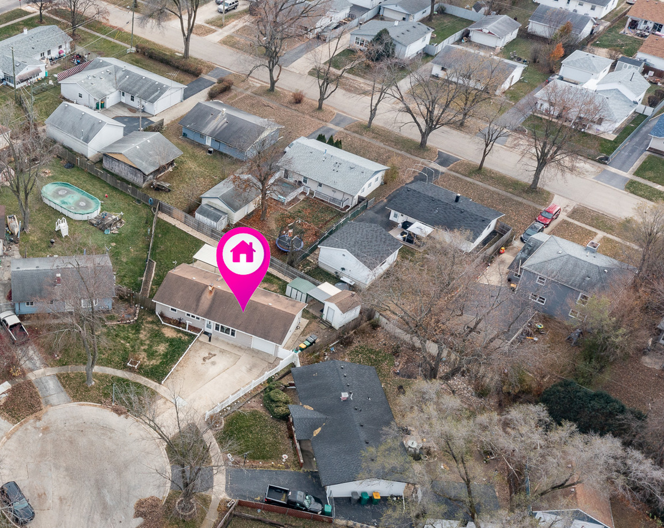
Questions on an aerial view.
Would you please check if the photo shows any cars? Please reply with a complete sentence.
Yes, there is a car in the image.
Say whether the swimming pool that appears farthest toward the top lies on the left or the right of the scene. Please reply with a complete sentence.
The swimming pool that appears farthest toward the top sits on the left side.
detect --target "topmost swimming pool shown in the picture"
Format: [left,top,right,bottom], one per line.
[42,185,101,218]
